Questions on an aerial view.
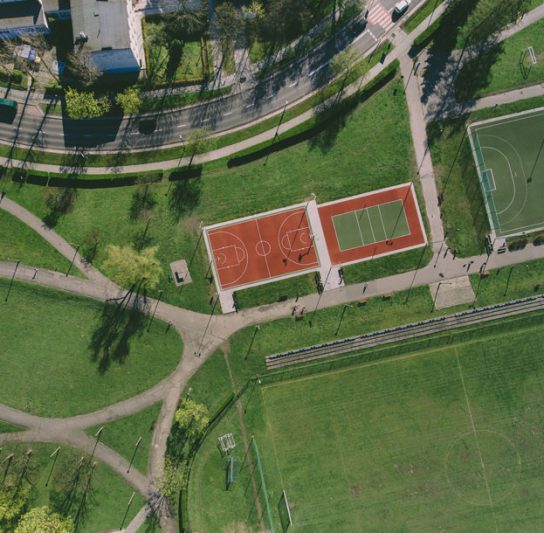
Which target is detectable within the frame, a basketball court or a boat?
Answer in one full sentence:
This aerial view contains a basketball court.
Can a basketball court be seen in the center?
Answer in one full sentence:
Yes, a basketball court can be seen in the center.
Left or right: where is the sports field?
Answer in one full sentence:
You can find the sports field on the right side of the picture.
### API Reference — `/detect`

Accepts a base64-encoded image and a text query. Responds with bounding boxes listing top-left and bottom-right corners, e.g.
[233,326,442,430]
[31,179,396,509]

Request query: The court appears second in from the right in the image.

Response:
[316,182,429,266]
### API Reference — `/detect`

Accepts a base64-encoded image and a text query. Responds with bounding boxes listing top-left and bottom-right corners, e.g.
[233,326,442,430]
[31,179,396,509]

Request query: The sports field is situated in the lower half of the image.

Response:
[251,322,544,533]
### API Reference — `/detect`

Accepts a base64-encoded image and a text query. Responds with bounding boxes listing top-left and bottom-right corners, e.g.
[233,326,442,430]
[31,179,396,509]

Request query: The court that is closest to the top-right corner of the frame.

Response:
[469,108,544,240]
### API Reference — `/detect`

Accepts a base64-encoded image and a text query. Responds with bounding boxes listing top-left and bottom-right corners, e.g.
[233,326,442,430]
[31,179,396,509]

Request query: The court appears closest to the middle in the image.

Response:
[202,201,321,296]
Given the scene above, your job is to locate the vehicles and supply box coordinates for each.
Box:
[0,96,23,111]
[394,0,414,15]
